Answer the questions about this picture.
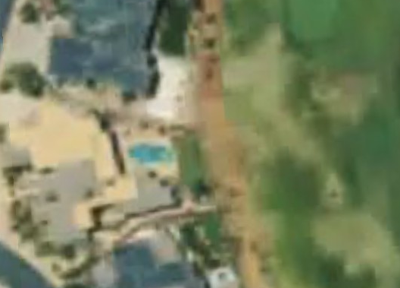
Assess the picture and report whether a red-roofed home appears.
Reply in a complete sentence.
No, no red-roofed home is visible in the scene.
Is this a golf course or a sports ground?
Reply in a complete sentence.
What you see here is a golf course.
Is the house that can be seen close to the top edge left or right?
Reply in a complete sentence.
It is on the left.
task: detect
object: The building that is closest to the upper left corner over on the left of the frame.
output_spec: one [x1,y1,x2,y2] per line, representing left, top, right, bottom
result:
[47,0,157,97]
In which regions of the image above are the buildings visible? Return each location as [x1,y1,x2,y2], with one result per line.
[112,238,207,288]
[47,0,157,97]
[5,100,178,241]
